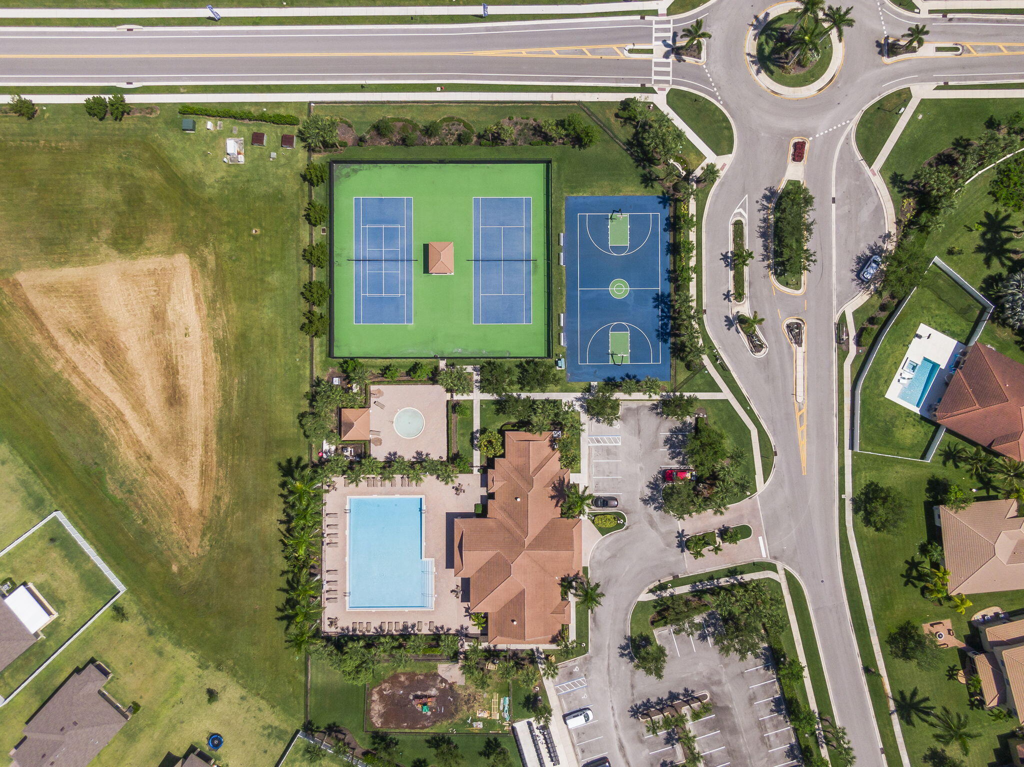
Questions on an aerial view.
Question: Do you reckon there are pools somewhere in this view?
Yes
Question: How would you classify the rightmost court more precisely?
basketball court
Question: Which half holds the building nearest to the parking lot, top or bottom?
bottom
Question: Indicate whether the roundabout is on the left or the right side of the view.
right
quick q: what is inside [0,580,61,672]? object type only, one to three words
house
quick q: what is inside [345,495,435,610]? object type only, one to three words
swimming pool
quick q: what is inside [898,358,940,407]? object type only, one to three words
swimming pool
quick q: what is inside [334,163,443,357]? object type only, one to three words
tennis court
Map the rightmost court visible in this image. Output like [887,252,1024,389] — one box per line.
[566,195,670,382]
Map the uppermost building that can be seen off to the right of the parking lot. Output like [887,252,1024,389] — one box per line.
[935,341,1024,460]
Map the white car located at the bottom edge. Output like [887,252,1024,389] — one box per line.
[565,710,593,730]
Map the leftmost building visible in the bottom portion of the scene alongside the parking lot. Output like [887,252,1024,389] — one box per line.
[454,431,583,644]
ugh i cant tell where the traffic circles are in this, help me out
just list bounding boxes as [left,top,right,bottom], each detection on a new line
[745,0,844,99]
